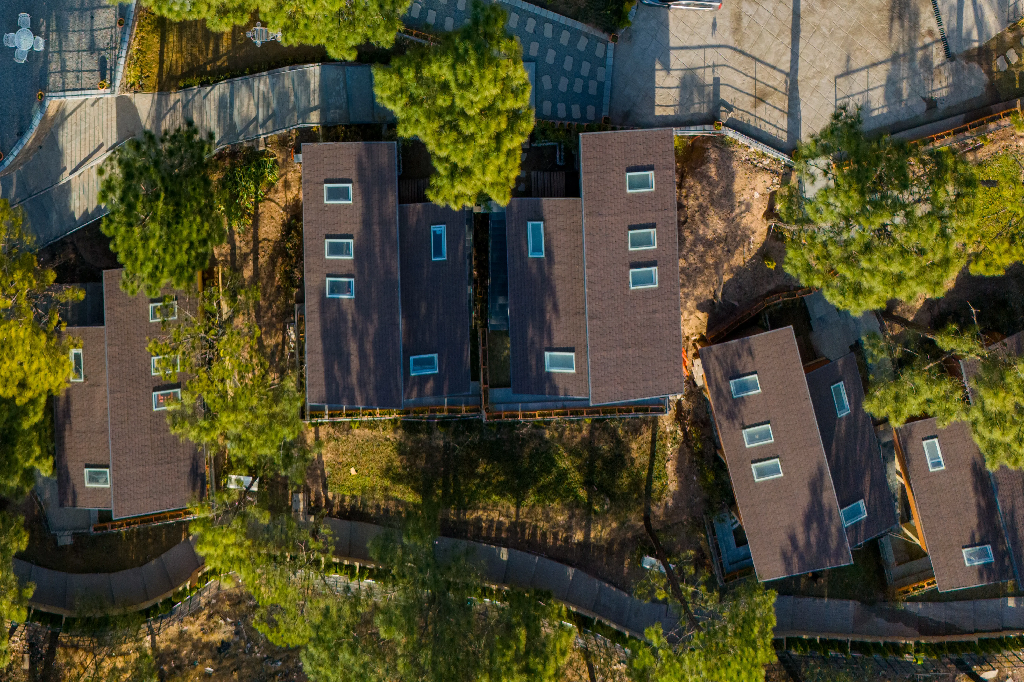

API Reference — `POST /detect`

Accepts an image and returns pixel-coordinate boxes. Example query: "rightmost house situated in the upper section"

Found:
[507,127,685,406]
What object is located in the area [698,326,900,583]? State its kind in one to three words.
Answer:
house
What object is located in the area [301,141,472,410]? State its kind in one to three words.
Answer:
house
